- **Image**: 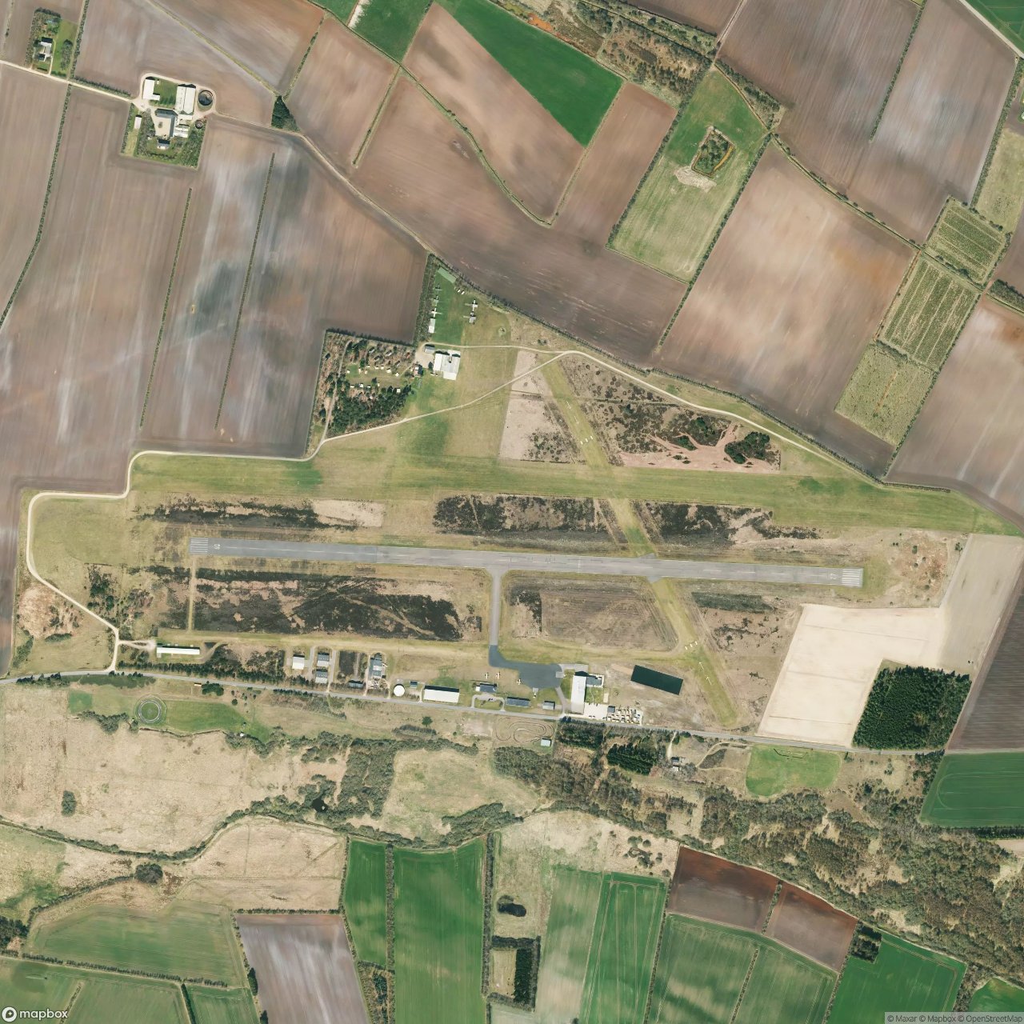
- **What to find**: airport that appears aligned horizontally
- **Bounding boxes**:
[24,267,1019,731]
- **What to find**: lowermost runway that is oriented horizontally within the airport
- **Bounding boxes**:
[188,537,863,587]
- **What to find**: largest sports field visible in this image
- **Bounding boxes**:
[746,746,840,797]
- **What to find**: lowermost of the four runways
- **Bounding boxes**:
[650,581,733,725]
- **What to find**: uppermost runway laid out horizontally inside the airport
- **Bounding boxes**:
[133,464,1006,530]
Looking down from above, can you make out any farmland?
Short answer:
Yes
